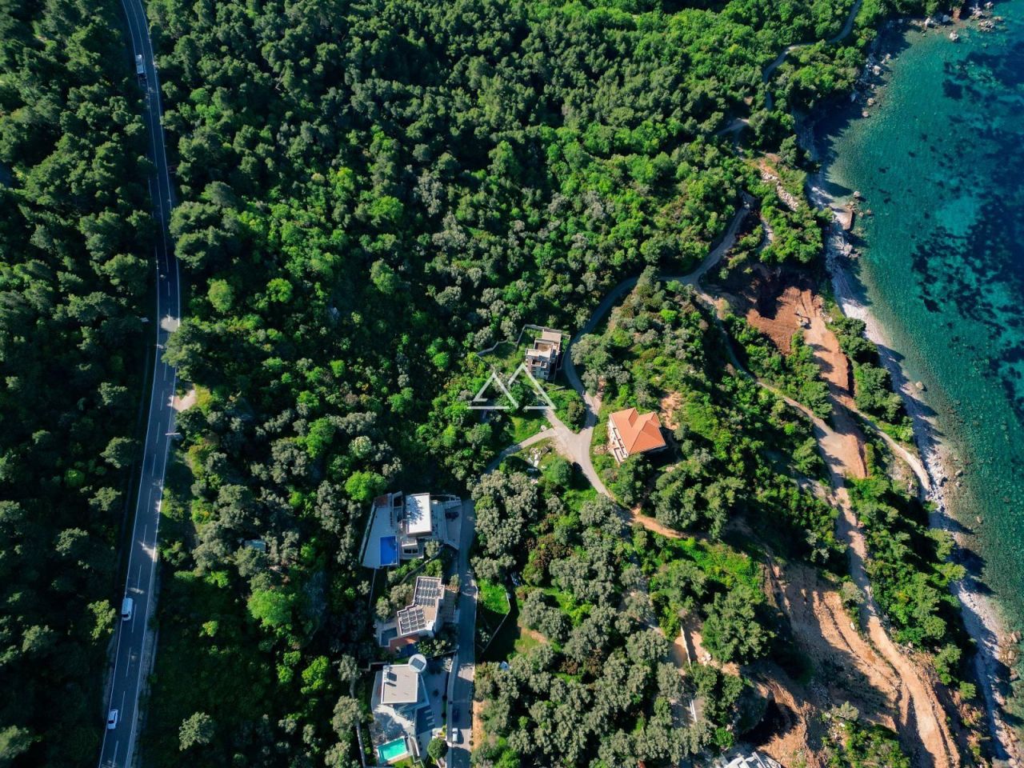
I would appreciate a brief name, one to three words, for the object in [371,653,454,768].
house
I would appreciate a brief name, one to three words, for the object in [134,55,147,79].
vehicle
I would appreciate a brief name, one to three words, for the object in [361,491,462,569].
house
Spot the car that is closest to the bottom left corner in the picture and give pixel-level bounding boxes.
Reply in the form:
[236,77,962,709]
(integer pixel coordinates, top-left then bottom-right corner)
[107,707,120,729]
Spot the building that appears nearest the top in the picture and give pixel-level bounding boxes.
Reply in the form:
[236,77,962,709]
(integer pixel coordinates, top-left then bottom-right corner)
[525,331,561,383]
